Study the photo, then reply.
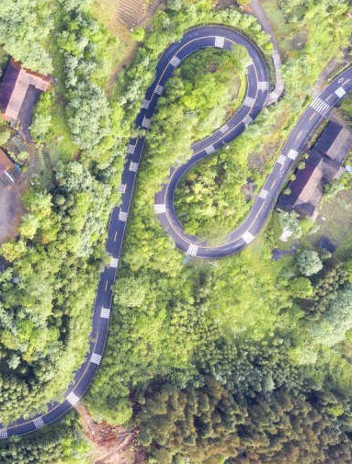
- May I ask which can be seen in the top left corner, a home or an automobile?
home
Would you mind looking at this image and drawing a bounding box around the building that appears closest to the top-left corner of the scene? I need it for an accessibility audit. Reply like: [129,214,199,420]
[0,63,55,123]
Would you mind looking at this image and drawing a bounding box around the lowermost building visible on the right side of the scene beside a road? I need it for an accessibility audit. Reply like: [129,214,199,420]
[281,148,344,219]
